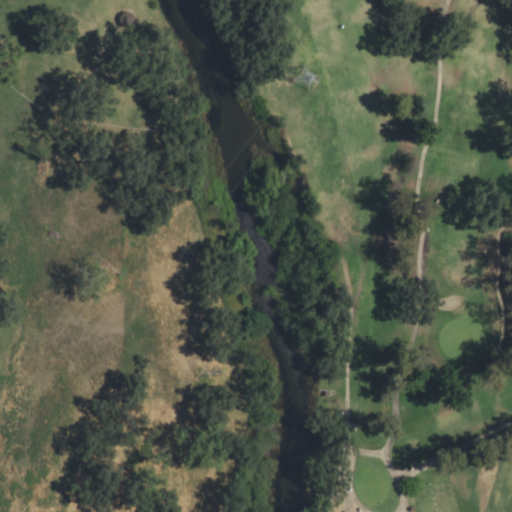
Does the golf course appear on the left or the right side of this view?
right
